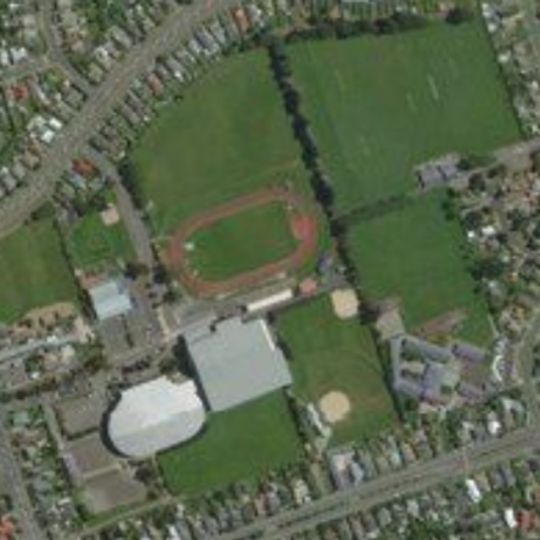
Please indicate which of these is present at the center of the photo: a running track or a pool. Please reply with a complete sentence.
There is a running track at the center of the photo.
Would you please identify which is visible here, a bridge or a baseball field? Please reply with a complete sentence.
This aerial view contains a baseball field.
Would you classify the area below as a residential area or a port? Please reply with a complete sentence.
The picture captures a residential area.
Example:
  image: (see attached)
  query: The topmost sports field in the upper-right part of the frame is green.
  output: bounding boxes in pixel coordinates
[283,14,521,217]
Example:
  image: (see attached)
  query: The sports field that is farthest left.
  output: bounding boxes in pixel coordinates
[0,204,78,325]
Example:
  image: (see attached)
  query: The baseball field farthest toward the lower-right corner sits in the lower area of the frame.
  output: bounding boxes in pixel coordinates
[291,352,400,446]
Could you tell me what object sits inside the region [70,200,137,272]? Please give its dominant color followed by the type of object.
green sports field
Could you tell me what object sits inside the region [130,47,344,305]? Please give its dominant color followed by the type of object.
green sports field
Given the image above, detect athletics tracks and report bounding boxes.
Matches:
[168,186,317,299]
